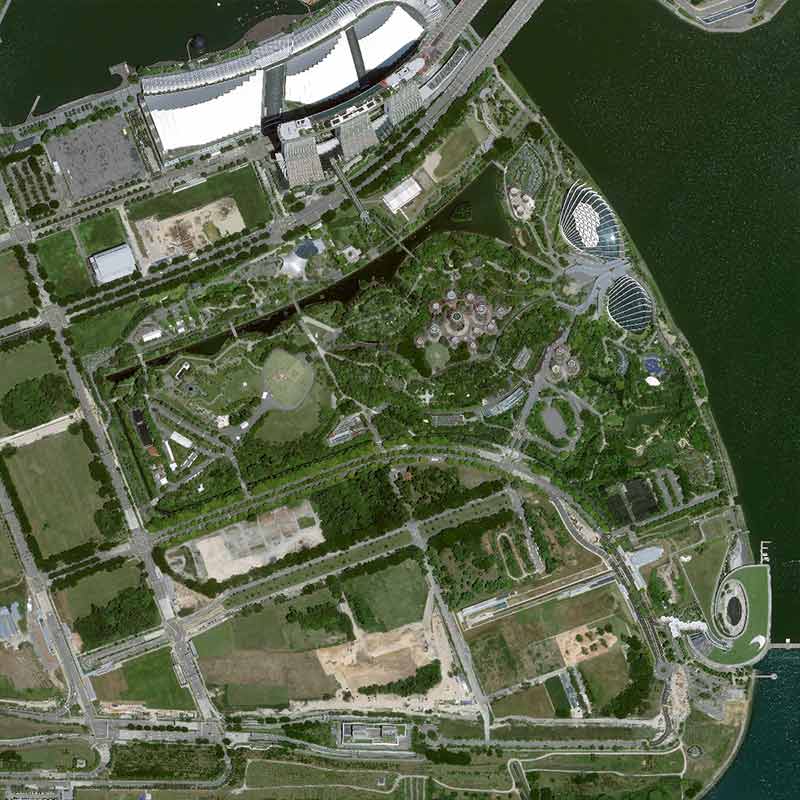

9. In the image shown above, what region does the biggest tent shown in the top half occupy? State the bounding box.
[280,254,307,280]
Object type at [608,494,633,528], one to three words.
building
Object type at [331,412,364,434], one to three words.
building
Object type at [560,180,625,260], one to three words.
greenhouse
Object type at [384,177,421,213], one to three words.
shed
